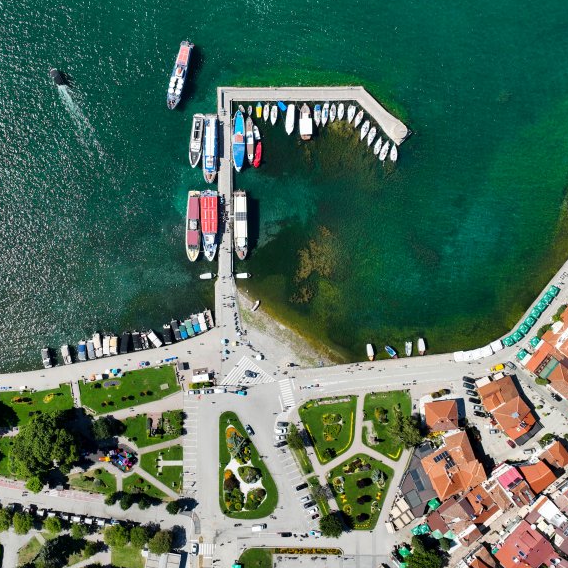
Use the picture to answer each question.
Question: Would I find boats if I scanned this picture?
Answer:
Yes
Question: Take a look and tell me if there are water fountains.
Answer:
No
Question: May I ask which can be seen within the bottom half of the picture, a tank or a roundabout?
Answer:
roundabout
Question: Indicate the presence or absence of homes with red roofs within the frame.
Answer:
Yes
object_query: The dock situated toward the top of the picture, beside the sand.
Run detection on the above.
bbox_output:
[216,86,411,278]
